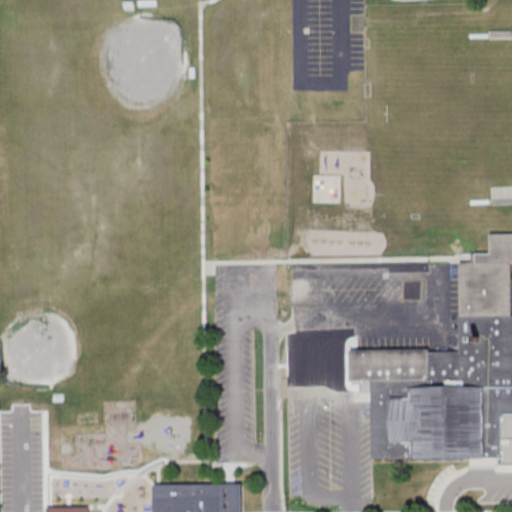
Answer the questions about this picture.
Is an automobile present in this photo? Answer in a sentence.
No, the picture doesn't show any automobile.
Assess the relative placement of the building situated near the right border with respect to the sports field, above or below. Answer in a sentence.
In the image, the building situated near the right border appears below the sports field.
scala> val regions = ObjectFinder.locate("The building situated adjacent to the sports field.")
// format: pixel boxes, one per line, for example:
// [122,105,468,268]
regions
[349,234,512,466]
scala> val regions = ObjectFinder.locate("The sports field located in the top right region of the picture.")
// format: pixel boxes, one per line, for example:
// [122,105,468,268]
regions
[374,48,512,180]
